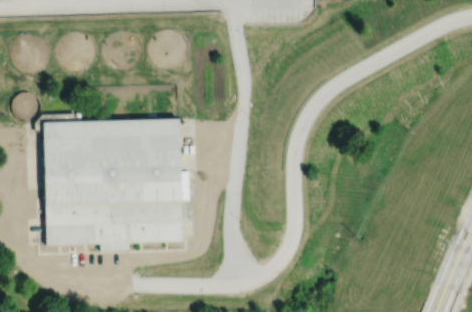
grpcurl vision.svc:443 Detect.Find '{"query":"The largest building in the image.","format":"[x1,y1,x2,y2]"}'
[44,117,183,252]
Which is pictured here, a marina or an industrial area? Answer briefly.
industrial area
